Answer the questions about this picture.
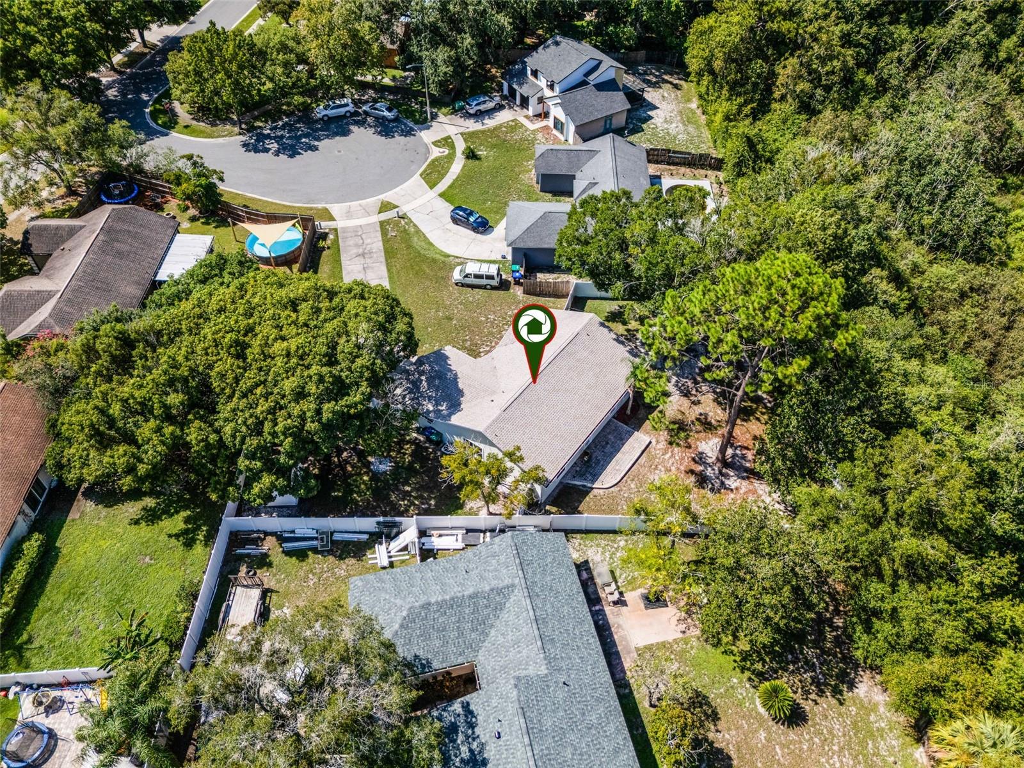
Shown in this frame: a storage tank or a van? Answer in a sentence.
Looking from above, you can make out a van.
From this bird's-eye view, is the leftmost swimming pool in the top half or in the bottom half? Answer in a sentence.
The top half of the photo is where the leftmost swimming pool is.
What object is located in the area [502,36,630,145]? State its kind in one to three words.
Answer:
house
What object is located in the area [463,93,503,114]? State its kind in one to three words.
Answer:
car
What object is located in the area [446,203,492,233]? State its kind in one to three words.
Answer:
car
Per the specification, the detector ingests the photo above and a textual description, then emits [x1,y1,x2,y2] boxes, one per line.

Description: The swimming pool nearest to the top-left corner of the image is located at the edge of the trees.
[244,224,306,272]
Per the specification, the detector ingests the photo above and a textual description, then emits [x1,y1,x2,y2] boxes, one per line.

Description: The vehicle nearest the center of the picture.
[450,261,504,291]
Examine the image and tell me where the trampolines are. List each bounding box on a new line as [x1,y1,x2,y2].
[92,168,142,205]
[0,709,57,768]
